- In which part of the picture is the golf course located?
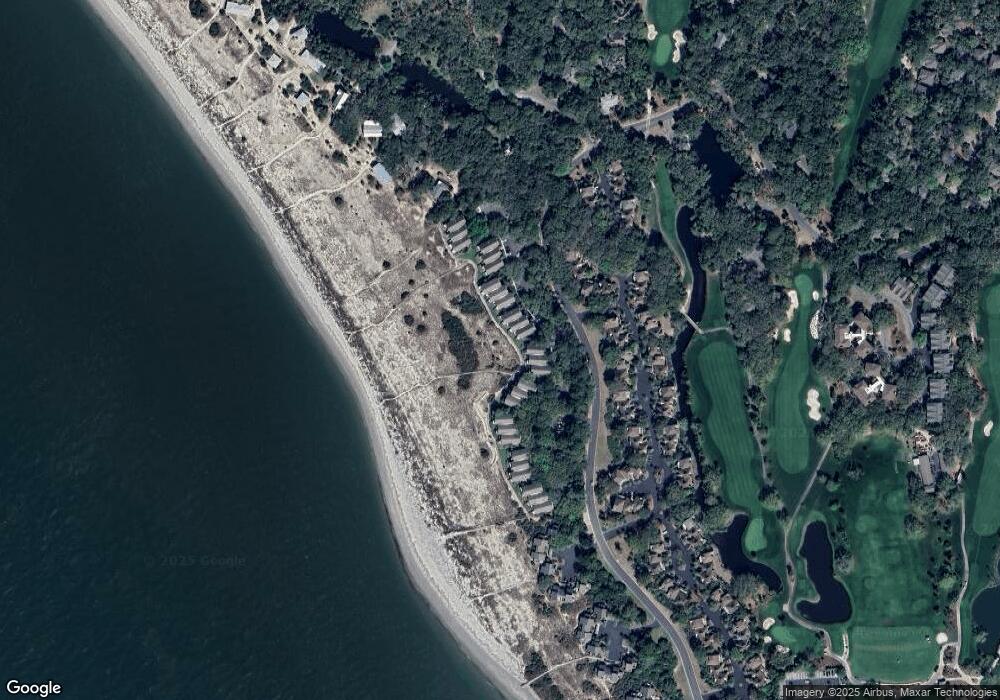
right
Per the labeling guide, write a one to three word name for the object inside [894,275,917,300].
building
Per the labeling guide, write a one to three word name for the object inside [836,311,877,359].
house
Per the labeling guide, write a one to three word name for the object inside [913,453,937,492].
building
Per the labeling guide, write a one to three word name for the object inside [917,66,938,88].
house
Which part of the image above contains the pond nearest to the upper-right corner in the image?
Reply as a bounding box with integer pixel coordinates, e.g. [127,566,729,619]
[698,121,743,203]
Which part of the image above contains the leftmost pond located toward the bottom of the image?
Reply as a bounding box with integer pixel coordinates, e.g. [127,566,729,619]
[713,515,781,590]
